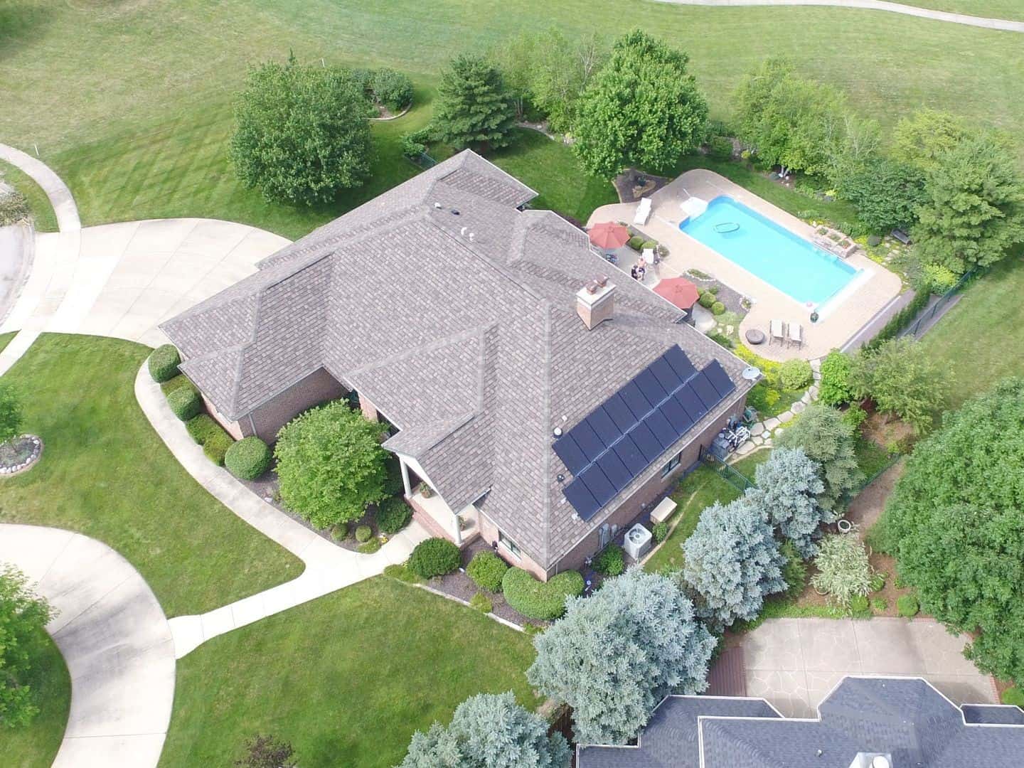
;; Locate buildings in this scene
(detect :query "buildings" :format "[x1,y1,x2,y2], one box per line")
[157,148,766,583]
[576,675,1024,768]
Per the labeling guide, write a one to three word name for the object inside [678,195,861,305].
swimming pool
